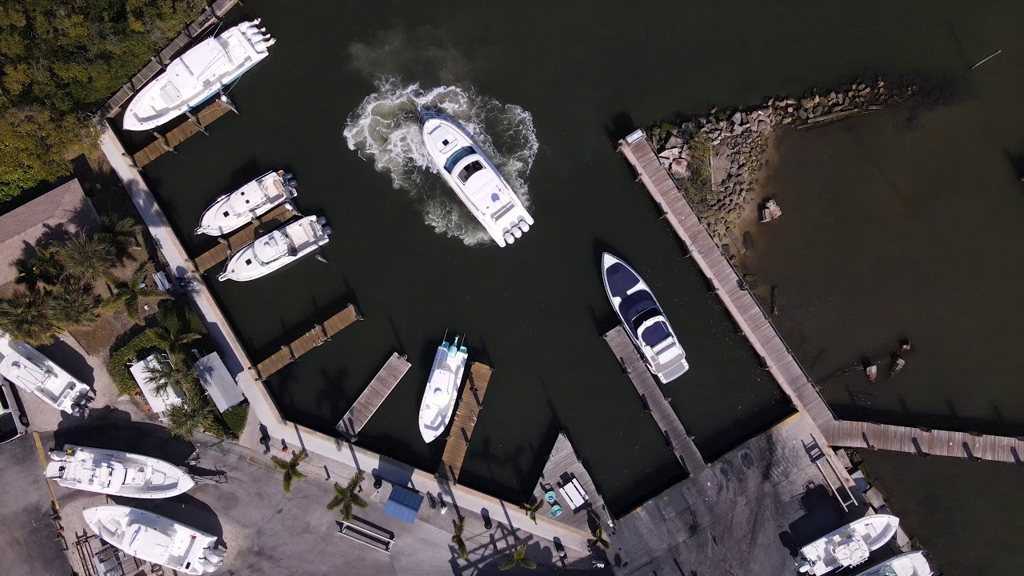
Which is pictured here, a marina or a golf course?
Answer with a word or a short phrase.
marina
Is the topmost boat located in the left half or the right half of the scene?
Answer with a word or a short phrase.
left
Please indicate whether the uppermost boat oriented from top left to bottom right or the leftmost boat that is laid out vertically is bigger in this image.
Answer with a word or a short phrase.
the uppermost boat oriented from top left to bottom right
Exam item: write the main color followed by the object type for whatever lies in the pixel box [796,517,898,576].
white boat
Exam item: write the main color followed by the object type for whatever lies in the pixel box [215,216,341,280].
white boat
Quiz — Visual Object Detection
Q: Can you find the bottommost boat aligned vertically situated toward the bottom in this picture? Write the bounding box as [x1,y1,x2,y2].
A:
[422,333,469,441]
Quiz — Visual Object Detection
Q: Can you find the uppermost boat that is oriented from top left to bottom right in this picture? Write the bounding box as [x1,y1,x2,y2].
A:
[421,114,538,254]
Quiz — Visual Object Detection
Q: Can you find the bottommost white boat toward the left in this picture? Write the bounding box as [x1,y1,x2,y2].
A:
[83,503,239,574]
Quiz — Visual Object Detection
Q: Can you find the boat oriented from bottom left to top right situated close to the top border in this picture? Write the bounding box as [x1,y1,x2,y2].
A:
[124,15,275,131]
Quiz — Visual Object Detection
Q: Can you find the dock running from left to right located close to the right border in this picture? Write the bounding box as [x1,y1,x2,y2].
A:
[808,417,1024,464]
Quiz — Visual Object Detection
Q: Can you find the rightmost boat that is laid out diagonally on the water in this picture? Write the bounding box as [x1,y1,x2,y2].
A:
[602,255,687,384]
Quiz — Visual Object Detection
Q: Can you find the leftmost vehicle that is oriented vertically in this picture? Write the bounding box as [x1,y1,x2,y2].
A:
[0,374,31,444]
